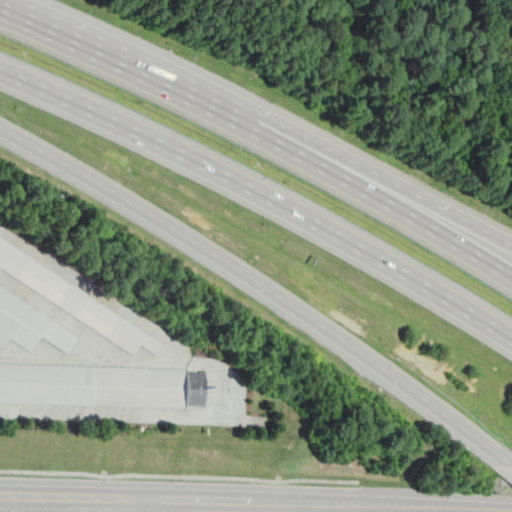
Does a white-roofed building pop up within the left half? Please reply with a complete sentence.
Yes, looking within the left half, one can make out a white-roofed building.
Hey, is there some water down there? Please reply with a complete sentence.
No, the scene doesn't show any water.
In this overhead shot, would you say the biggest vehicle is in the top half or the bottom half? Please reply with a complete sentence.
You can find the biggest vehicle in the top half.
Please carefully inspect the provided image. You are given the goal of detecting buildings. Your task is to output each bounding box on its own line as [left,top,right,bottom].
[188,372,208,406]
[0,366,186,408]
[0,285,86,359]
[0,235,170,360]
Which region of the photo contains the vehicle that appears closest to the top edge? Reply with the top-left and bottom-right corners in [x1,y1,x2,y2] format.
[138,62,178,82]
